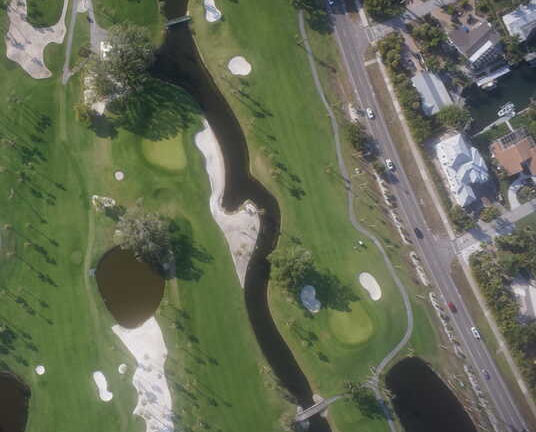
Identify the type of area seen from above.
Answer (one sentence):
The picture captures a golf course.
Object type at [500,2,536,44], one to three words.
house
